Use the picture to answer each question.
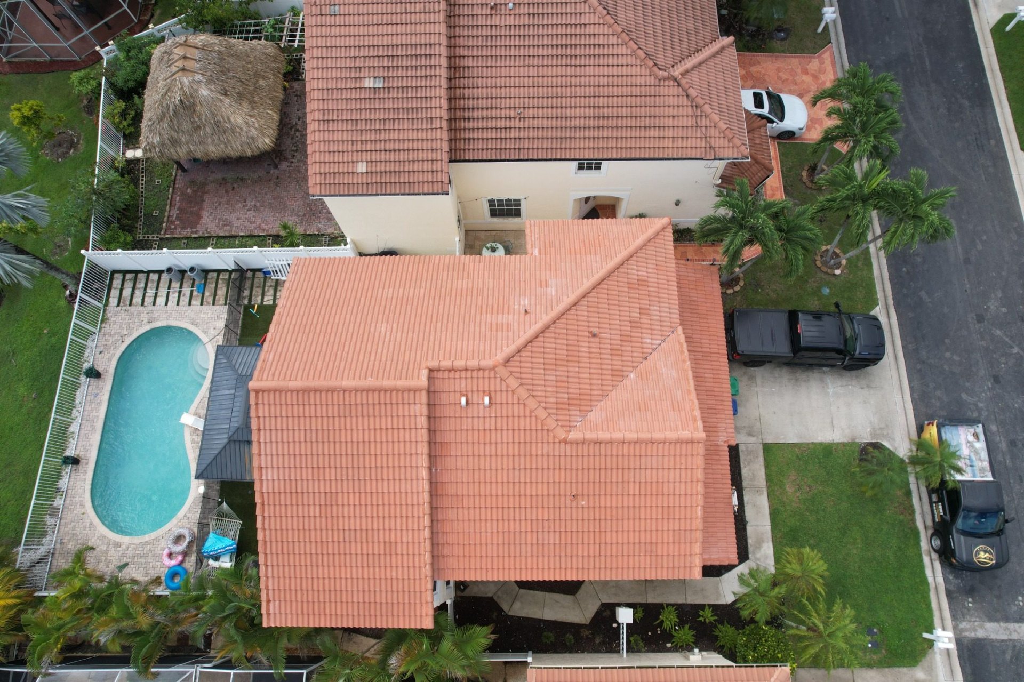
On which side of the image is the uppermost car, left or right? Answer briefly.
right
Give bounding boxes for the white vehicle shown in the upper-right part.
[742,83,808,141]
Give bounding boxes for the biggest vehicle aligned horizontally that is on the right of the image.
[724,313,890,383]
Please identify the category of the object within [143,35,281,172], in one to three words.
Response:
shed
